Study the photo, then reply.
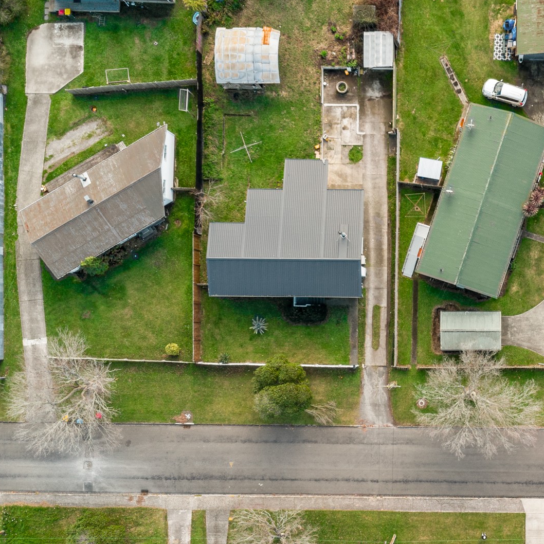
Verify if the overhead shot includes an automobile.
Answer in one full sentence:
Yes, there's an automobile down there.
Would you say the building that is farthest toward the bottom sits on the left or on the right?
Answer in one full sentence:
The building that is farthest toward the bottom sits on the right side.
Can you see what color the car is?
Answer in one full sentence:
The color of the car is white.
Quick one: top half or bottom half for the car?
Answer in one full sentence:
You can find the car in the top half.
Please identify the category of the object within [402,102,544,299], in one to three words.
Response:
house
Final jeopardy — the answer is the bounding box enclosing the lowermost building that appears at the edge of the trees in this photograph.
[440,310,502,351]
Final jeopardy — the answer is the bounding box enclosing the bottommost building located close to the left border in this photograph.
[20,119,181,279]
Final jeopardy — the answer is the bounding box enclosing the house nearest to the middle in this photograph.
[207,159,365,306]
